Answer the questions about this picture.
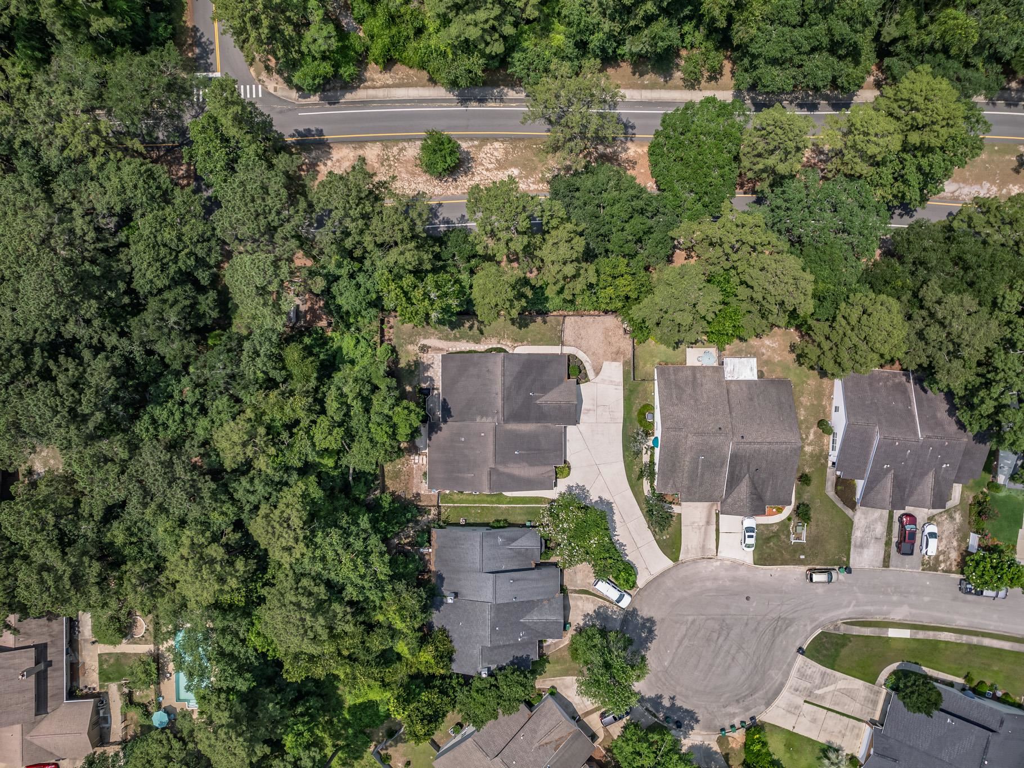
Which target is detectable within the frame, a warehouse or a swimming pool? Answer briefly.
swimming pool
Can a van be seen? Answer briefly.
Yes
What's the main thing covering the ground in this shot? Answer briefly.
trees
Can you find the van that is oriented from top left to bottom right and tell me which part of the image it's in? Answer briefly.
bottom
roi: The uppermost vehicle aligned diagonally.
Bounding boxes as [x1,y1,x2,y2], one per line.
[592,577,630,609]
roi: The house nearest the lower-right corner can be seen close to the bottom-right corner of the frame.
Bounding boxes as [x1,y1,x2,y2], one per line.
[847,676,1024,768]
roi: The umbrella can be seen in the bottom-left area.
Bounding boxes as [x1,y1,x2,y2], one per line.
[153,708,171,726]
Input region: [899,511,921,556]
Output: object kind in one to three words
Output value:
truck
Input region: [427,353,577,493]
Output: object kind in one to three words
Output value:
house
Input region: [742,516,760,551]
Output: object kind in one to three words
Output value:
car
